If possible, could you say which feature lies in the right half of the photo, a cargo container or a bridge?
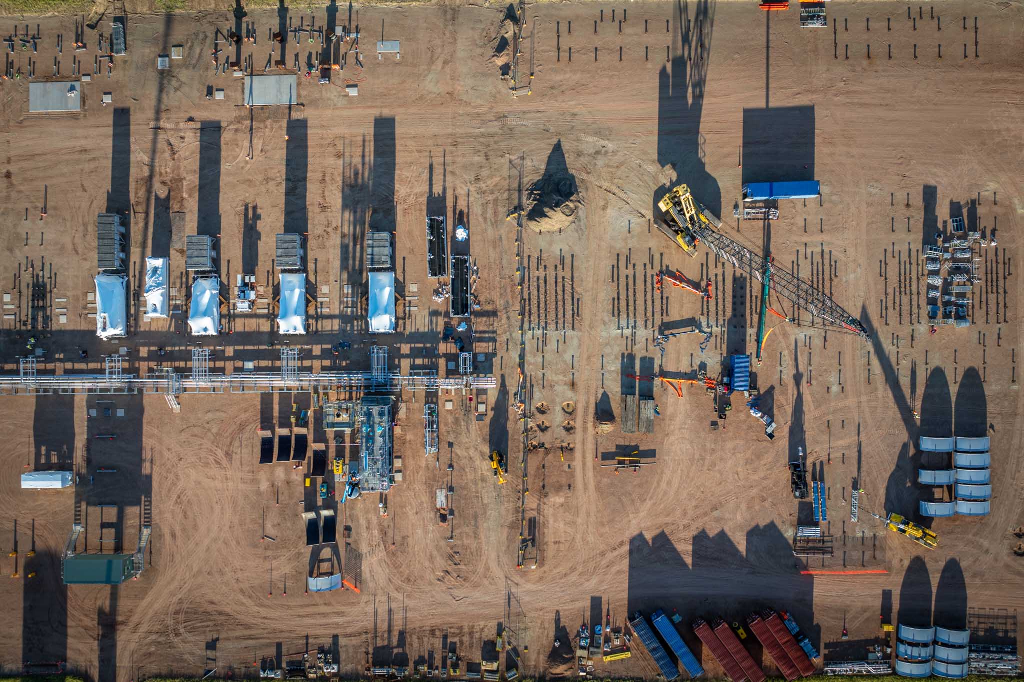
cargo container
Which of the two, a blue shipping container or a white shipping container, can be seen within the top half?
blue shipping container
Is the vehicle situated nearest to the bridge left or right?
left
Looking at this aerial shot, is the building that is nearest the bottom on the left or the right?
left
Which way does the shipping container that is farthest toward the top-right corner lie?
horizontally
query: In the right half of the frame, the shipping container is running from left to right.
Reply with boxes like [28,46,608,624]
[742,182,823,208]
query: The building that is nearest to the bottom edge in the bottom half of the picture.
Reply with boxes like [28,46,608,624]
[61,517,151,584]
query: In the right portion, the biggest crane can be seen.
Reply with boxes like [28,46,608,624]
[655,176,874,342]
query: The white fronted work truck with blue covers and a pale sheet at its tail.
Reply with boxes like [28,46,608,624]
[751,406,776,430]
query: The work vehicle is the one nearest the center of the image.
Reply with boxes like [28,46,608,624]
[486,452,510,490]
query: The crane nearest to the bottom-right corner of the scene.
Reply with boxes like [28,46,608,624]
[873,509,951,555]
